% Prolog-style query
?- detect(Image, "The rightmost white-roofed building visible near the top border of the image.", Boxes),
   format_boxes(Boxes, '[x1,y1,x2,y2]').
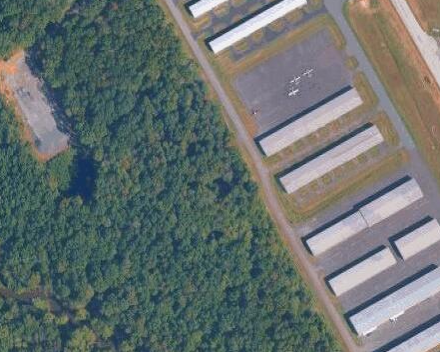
[209,0,307,54]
